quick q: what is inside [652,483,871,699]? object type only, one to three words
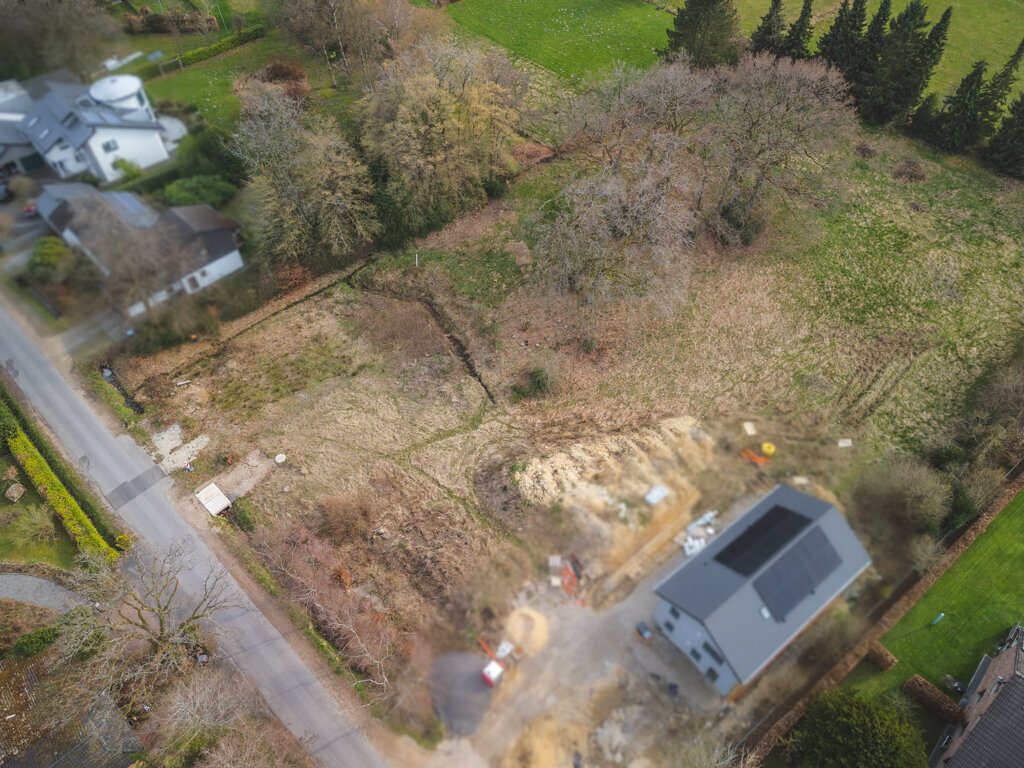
house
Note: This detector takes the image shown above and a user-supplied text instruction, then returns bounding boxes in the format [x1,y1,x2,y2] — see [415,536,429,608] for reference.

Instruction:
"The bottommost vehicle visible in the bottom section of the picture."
[462,642,510,695]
